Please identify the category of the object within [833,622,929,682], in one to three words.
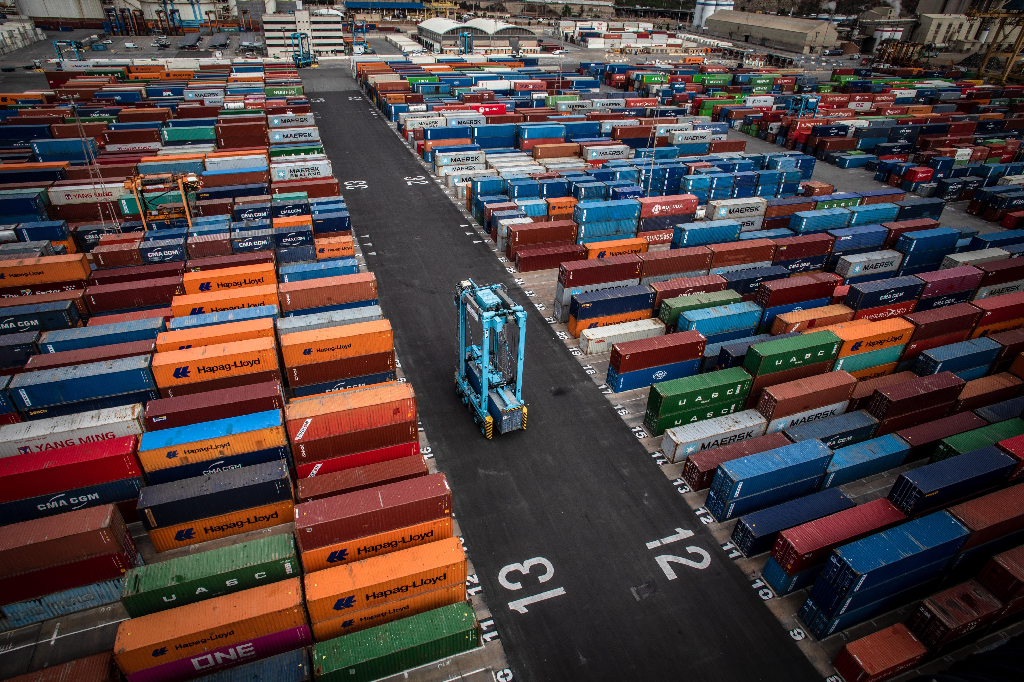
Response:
shipping container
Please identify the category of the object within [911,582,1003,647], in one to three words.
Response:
shipping container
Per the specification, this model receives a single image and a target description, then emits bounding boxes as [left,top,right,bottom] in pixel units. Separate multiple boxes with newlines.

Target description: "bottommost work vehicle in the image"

[452,274,532,439]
